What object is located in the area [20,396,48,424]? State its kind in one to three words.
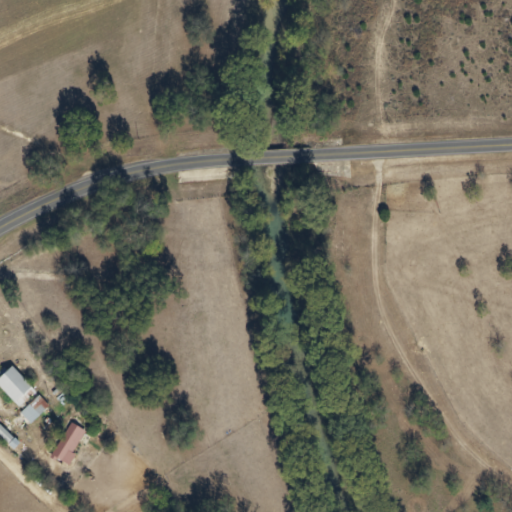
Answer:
shed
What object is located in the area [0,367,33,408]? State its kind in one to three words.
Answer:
barn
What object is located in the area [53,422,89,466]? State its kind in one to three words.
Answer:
house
